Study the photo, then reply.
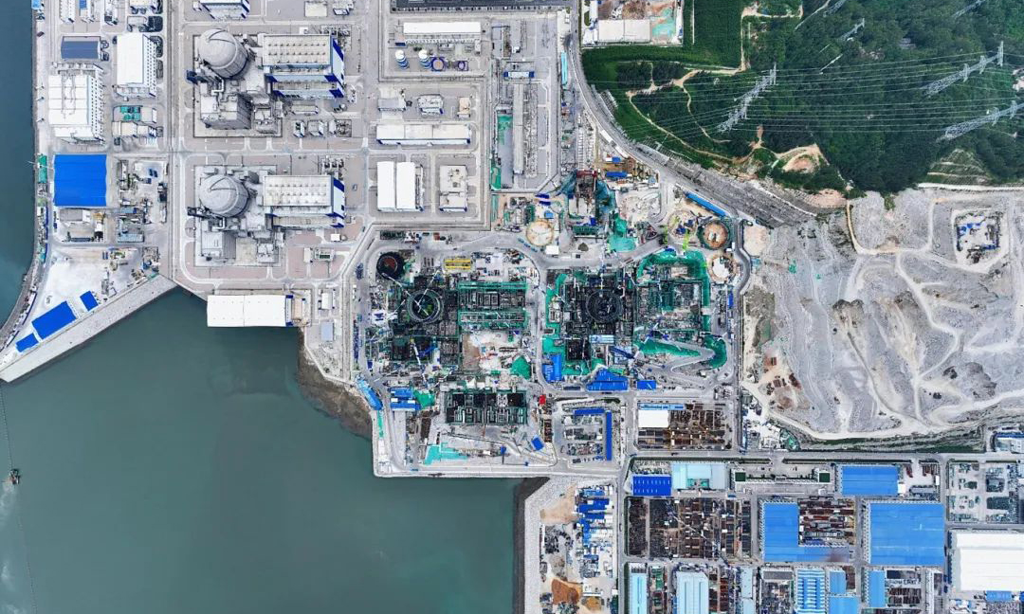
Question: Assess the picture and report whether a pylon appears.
Yes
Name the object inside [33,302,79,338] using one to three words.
shed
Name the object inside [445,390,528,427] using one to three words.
building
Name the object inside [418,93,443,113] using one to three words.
building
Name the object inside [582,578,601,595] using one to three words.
shed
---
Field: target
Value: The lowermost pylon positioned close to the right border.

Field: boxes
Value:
[939,100,1009,142]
